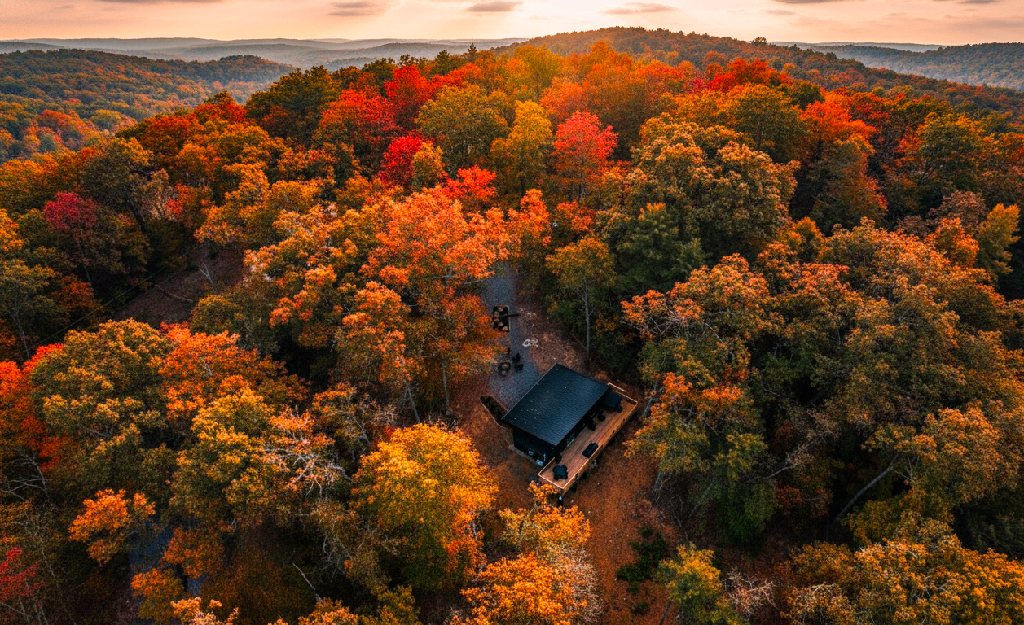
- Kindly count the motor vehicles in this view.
none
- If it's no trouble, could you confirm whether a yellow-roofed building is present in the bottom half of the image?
No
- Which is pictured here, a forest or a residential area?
forest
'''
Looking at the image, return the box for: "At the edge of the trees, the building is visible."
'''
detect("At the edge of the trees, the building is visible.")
[503,368,622,476]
